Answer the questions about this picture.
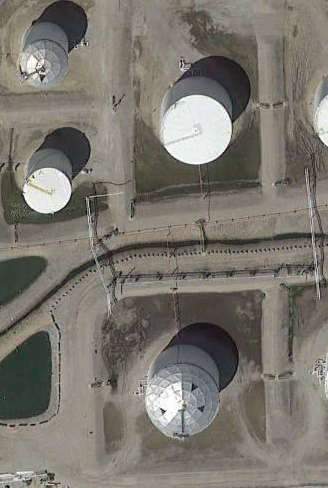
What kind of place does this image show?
industrial area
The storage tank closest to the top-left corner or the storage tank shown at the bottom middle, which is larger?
the storage tank shown at the bottom middle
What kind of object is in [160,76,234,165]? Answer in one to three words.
storage tank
